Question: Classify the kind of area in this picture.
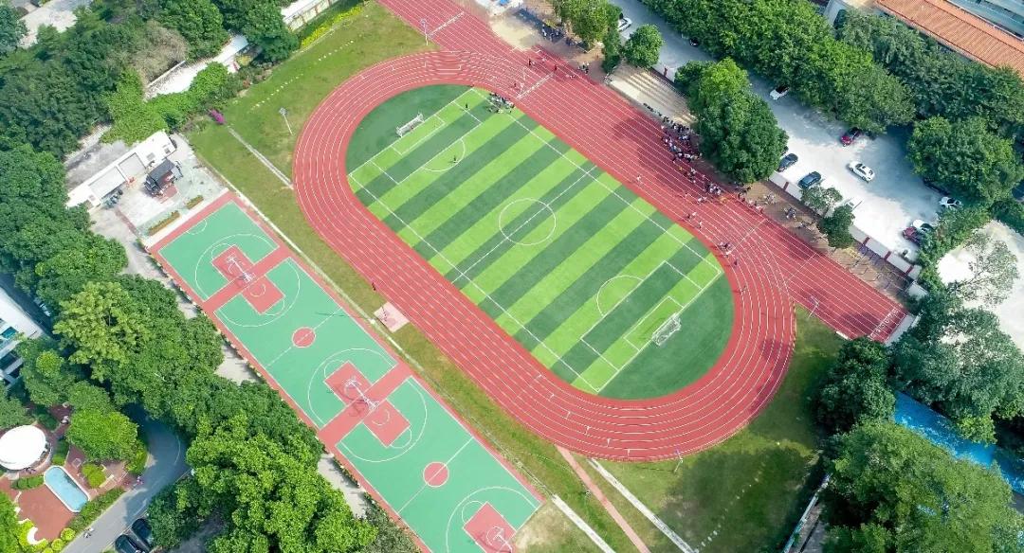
sports ground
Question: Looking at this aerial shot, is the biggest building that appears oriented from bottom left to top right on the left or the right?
left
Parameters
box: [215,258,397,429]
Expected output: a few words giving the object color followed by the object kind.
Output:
green basketball court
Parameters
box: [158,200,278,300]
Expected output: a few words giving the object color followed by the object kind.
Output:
green basketball court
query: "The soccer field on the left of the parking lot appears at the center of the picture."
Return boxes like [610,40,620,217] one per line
[346,84,732,399]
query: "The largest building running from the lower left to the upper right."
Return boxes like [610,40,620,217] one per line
[68,129,185,223]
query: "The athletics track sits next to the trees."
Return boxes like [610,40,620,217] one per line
[289,0,907,465]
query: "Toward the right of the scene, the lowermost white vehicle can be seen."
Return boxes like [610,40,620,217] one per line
[894,247,923,266]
